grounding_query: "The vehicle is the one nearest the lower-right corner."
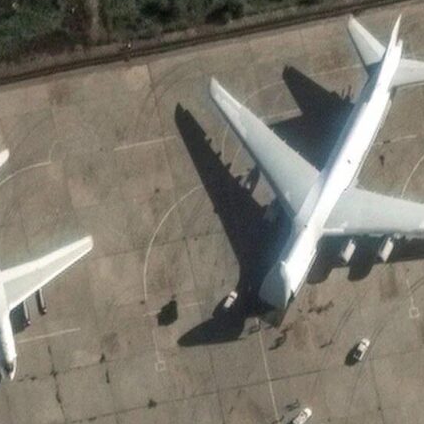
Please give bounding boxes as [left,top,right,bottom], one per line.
[352,340,369,362]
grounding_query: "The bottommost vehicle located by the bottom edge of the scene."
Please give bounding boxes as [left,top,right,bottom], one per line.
[293,411,313,424]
